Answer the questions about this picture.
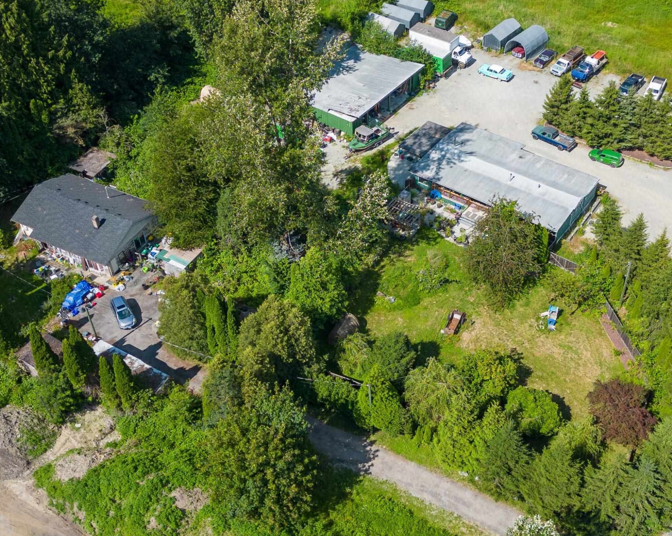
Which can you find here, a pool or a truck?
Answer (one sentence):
Looking from above, you can make out a truck.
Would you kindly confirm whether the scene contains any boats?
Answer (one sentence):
Yes, this view includes a boat.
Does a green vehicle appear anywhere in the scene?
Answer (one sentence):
Yes, a green vehicle is visible in the scene.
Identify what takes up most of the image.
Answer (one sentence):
Most of the picture is covered by trees.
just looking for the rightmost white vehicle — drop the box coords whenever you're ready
[645,77,667,100]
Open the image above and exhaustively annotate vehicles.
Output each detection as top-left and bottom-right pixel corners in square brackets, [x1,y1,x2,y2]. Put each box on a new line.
[410,24,479,70]
[529,125,578,150]
[476,63,515,83]
[567,47,612,86]
[509,41,524,60]
[110,295,136,333]
[433,7,456,31]
[619,74,644,96]
[549,39,588,76]
[645,77,667,100]
[533,50,557,67]
[587,149,624,168]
